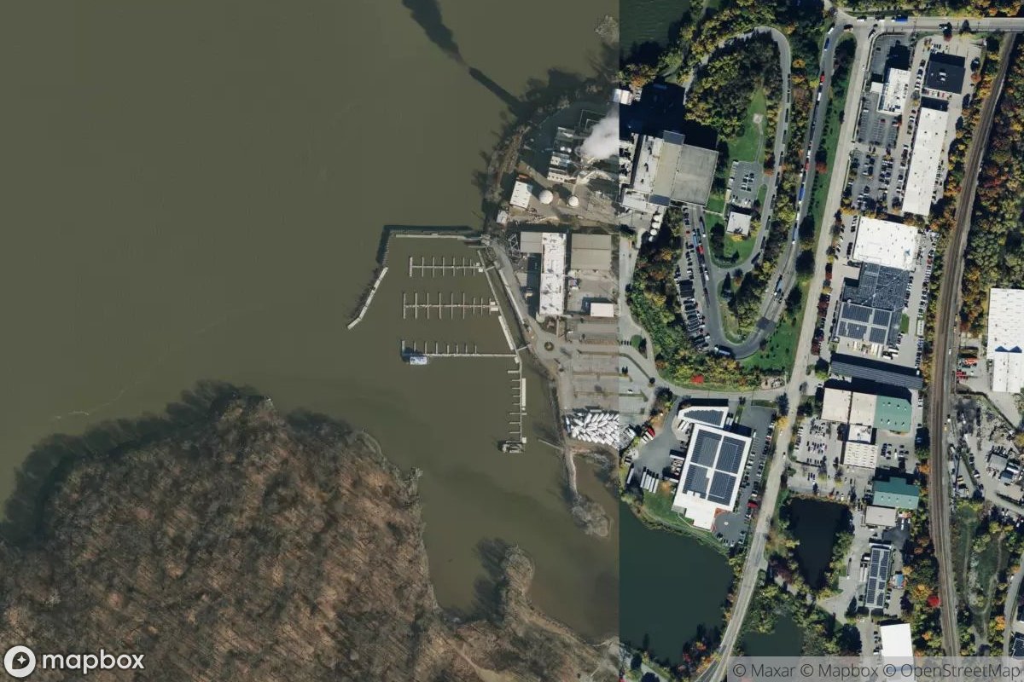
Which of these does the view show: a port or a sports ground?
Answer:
port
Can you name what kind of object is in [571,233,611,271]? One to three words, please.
shed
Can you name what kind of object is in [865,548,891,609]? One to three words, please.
shed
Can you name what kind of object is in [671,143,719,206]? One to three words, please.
building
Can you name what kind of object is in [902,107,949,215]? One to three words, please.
building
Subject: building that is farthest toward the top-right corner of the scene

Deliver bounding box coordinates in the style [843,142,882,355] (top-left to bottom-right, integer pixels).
[925,60,966,94]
